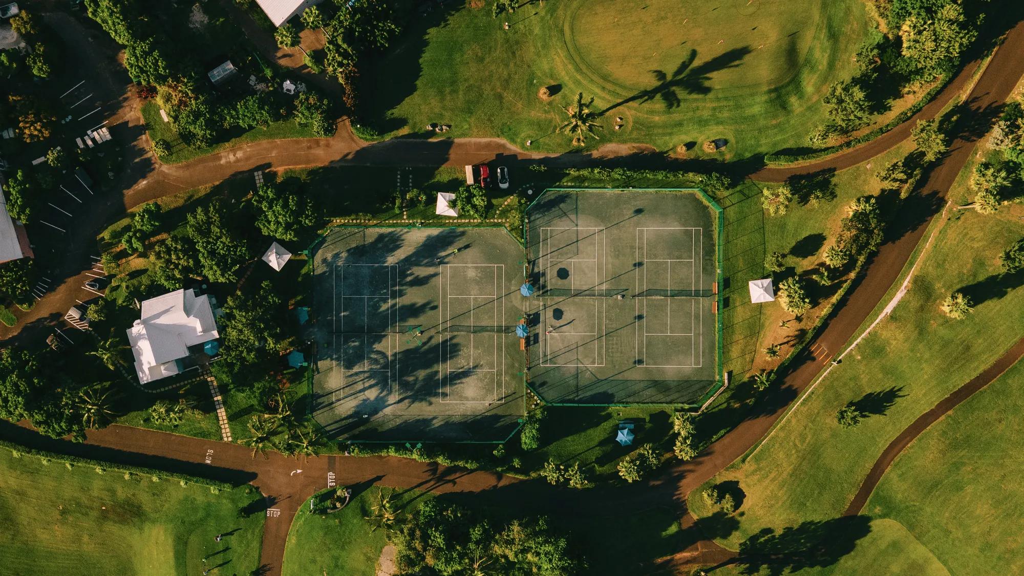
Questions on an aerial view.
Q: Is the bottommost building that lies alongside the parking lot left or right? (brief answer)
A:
left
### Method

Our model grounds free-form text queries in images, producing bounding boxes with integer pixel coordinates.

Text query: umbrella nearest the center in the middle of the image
[520,282,534,296]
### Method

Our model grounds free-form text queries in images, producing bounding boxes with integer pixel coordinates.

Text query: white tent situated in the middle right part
[747,278,773,303]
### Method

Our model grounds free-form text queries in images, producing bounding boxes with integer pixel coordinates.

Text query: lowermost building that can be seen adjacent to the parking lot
[126,289,223,384]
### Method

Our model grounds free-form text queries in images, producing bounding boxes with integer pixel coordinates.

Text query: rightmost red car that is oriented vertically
[479,164,491,188]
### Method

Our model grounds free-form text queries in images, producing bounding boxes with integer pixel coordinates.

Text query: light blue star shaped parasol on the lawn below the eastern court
[615,426,633,445]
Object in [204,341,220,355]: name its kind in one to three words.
umbrella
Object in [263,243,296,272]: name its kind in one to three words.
tent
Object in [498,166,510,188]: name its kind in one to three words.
vehicle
